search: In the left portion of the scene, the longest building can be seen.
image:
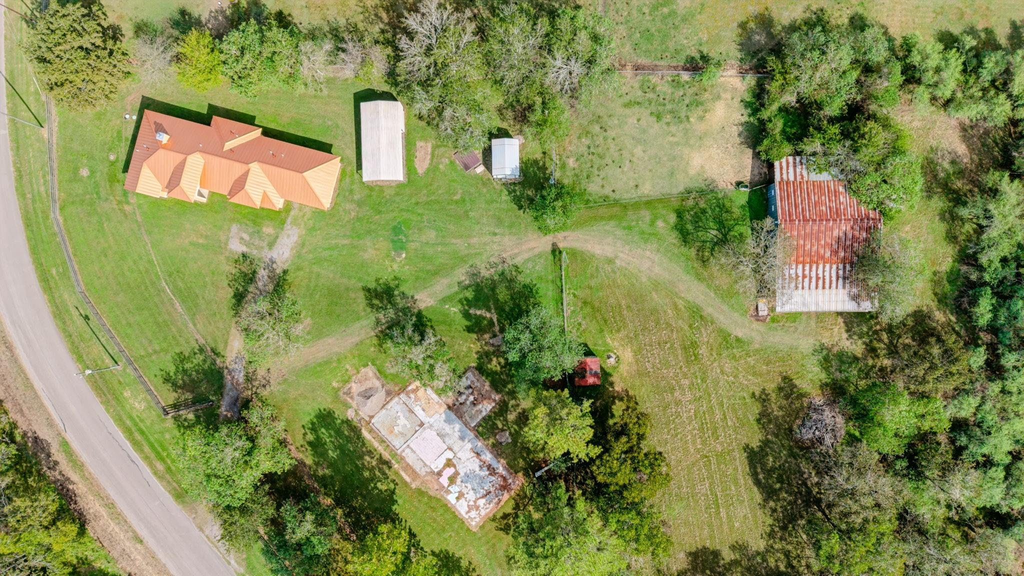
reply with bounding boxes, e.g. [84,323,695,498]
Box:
[125,109,342,214]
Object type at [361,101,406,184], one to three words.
shed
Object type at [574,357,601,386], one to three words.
shed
